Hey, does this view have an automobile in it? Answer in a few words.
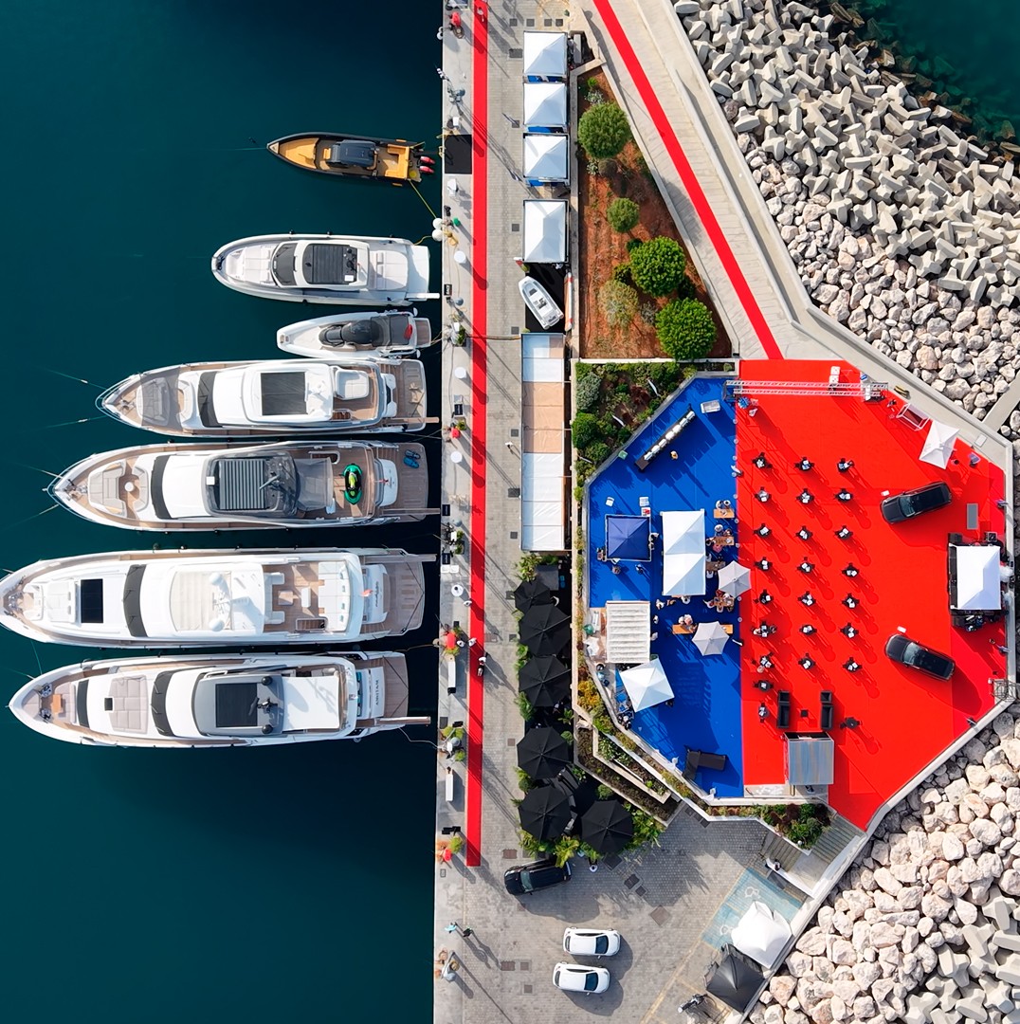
Yes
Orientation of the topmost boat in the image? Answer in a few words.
from left to right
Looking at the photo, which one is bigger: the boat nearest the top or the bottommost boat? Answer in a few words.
the bottommost boat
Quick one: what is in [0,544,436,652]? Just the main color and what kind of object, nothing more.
white boat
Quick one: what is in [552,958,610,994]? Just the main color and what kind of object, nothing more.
white car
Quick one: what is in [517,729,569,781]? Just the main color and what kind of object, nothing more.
black umbrella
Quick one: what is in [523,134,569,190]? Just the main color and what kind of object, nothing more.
white tent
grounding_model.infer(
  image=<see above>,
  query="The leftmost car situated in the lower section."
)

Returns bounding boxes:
[504,857,574,895]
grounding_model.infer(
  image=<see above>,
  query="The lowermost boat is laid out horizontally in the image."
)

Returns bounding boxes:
[9,646,430,753]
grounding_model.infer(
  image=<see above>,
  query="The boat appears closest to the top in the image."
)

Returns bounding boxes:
[267,132,435,186]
